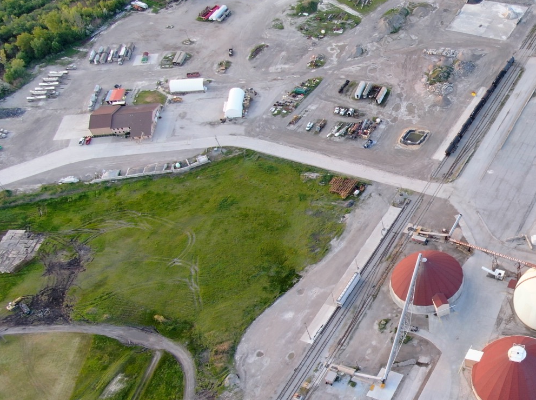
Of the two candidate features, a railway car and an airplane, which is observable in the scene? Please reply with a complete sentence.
It is a railway car that can be seen here.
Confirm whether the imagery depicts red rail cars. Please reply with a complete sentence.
No, there's no red rail car here.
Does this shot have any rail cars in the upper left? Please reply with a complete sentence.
No, looking in the upper left, there is no rail car.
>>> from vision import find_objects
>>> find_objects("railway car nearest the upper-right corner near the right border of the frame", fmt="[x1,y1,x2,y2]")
[501,54,514,72]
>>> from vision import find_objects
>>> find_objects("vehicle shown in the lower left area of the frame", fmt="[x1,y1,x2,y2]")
[1,290,37,310]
